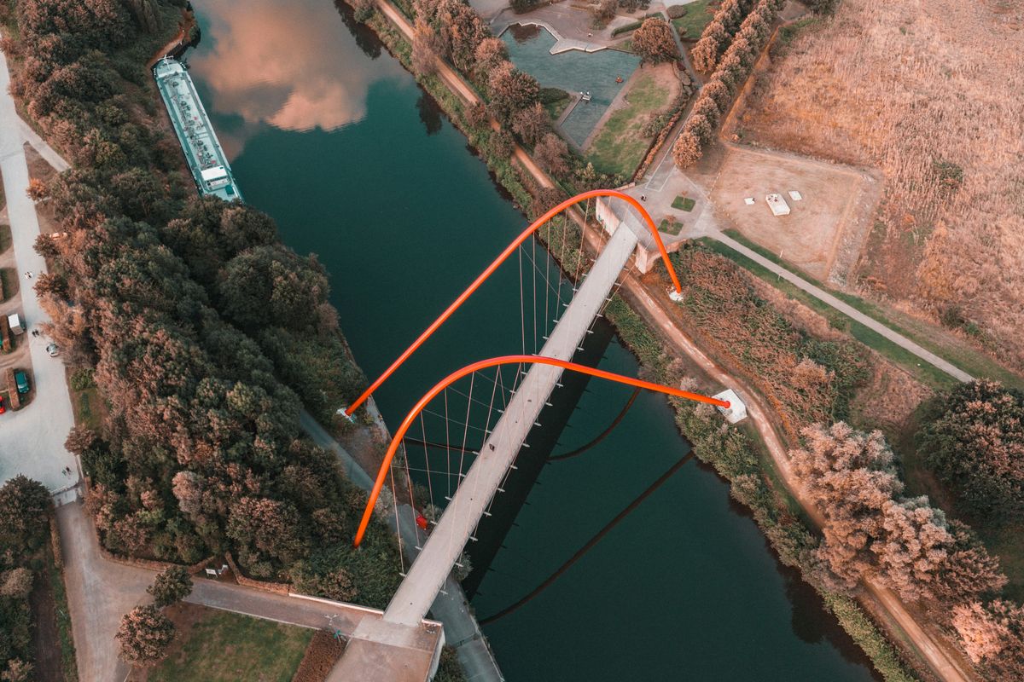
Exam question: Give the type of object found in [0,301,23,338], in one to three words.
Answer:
truck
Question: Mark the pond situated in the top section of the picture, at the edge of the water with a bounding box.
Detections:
[500,22,642,146]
